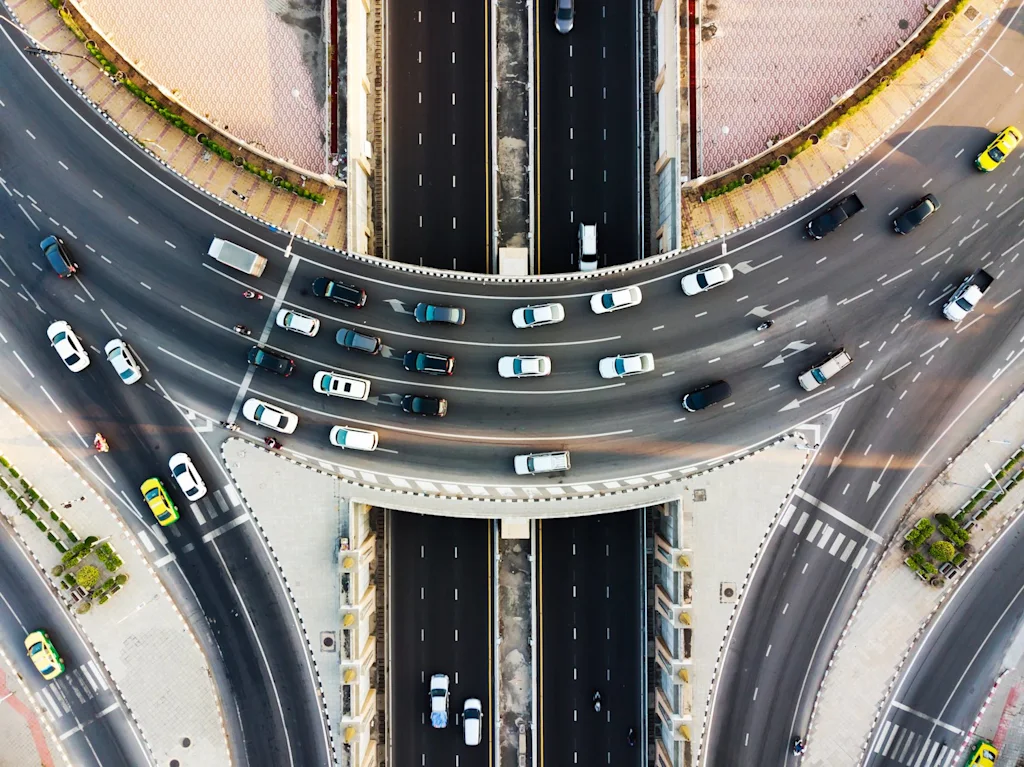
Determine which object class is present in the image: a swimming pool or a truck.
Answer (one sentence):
There is a truck in the scene.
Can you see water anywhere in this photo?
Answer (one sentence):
No, the picture contains no water.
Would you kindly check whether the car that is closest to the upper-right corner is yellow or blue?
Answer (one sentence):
The color of the car that is closest to the upper-right corner is yellow.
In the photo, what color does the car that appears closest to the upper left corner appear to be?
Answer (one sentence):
In this view, the car that appears closest to the upper left corner is blue.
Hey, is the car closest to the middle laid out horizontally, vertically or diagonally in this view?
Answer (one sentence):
The car closest to the middle is laid out horizontally.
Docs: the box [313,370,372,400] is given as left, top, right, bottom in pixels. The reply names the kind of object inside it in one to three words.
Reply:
van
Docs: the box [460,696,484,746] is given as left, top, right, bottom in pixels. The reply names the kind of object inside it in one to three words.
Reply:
car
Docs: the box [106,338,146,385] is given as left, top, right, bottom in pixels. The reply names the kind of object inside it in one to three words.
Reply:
car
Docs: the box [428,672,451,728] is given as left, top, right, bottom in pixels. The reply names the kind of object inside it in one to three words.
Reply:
truck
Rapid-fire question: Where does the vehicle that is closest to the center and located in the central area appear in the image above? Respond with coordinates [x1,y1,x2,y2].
[499,354,550,379]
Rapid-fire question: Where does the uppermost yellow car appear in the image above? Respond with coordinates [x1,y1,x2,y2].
[969,123,1024,171]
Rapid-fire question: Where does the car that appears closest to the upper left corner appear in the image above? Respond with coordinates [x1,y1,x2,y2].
[40,234,80,280]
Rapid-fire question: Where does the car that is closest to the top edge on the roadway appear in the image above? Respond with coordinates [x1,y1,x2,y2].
[554,0,577,34]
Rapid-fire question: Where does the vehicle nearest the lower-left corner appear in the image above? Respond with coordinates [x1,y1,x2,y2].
[24,629,71,681]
